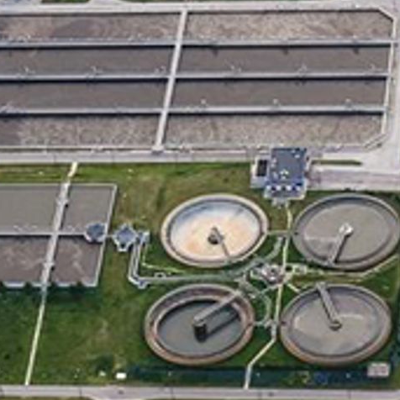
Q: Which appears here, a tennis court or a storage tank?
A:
storage tank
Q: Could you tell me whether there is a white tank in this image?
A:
Yes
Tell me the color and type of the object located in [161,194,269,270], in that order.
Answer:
white storage tank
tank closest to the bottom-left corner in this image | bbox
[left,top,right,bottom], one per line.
[144,285,255,366]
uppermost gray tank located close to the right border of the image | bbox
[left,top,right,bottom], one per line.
[292,194,400,272]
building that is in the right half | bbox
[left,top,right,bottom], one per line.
[266,148,308,206]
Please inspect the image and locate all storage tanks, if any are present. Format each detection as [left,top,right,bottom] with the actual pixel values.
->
[161,194,269,270]
[292,194,400,272]
[144,285,255,366]
[279,283,392,367]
